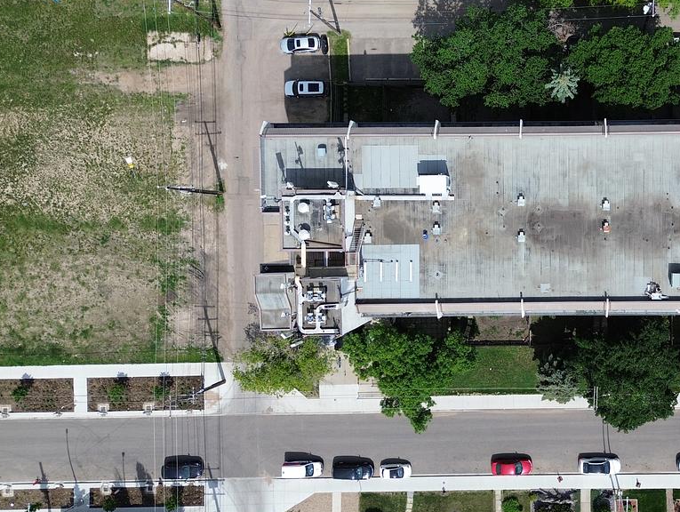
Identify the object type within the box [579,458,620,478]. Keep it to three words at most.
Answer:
car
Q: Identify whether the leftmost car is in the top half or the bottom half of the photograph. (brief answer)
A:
bottom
